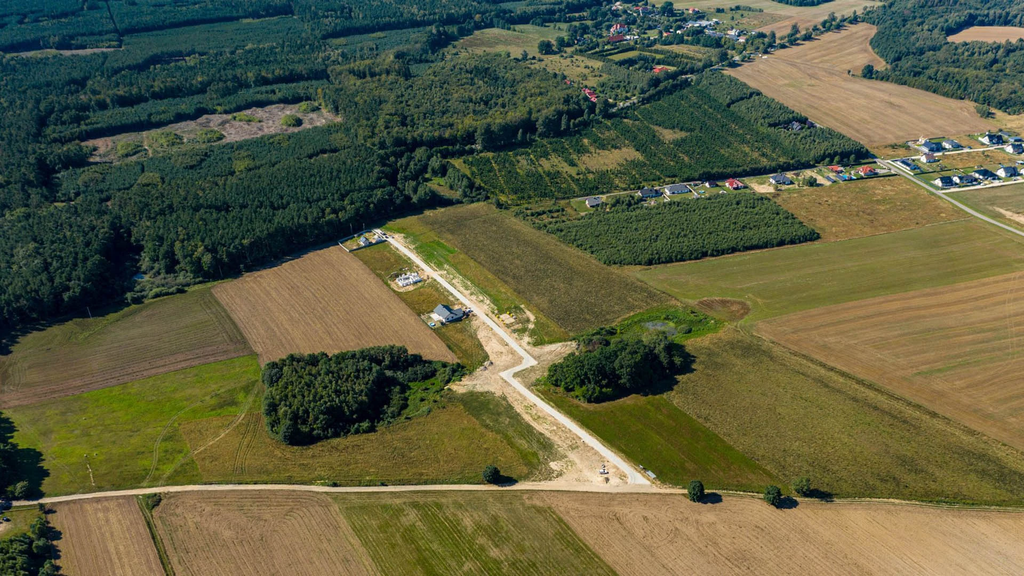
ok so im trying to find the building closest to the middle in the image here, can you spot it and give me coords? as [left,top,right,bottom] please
[429,304,466,325]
